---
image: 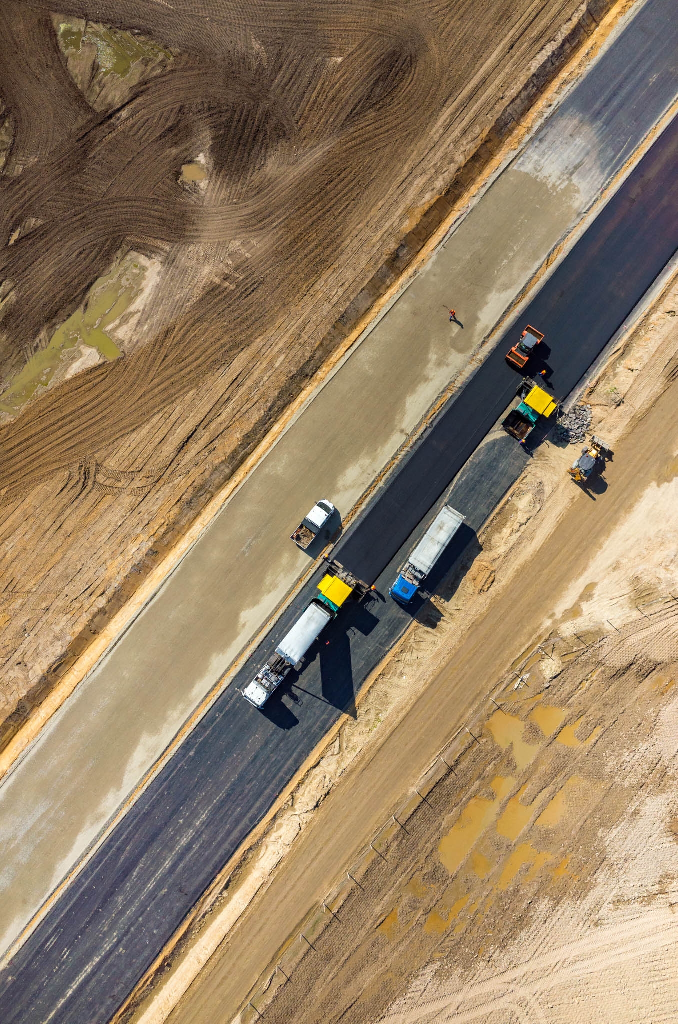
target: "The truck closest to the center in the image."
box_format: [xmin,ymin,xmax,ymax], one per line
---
[291,499,333,549]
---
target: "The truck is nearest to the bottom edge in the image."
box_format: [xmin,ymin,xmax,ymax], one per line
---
[239,600,334,710]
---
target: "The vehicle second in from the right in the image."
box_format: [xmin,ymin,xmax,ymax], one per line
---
[505,325,544,368]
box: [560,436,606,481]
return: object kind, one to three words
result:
work vehicle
